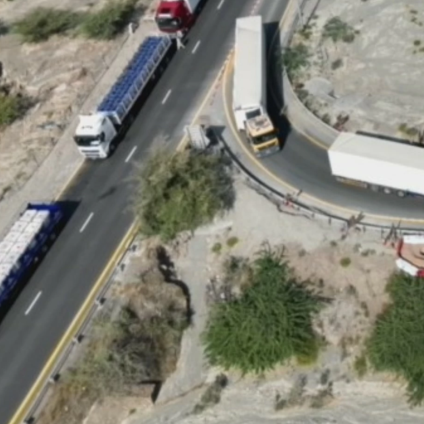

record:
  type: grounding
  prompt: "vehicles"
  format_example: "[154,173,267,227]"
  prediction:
[150,0,203,39]
[233,15,281,159]
[330,130,424,198]
[0,203,64,306]
[71,35,175,158]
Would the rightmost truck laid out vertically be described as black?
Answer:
No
